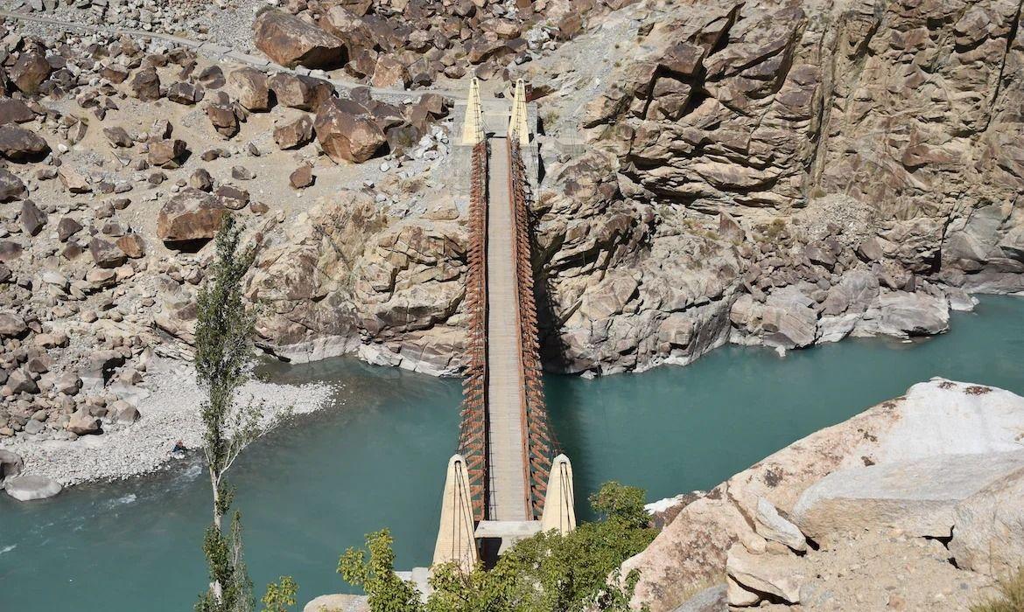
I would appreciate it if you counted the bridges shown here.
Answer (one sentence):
Just 1 bridge appears in this view.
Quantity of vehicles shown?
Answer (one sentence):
I count no vehicles.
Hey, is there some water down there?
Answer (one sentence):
Yes, water shows up in the scene.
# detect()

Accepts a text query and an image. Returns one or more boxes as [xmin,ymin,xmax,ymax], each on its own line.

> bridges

[426,75,578,608]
